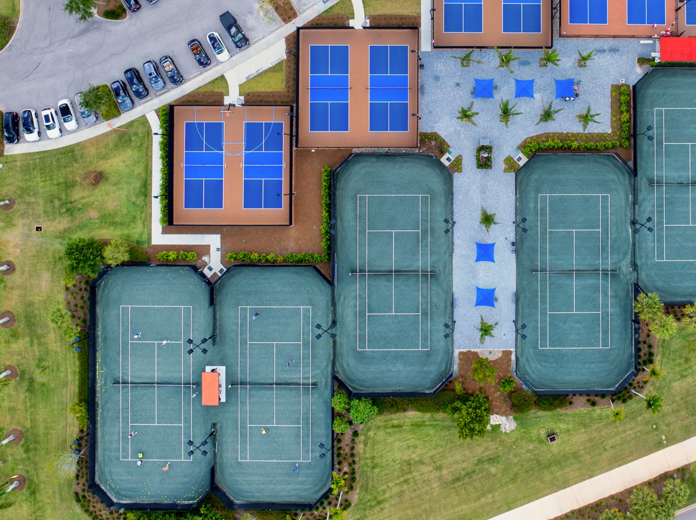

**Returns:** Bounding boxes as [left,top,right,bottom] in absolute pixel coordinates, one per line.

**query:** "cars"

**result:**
[17,108,44,143]
[123,0,142,14]
[158,53,185,86]
[186,37,214,69]
[72,91,100,126]
[1,111,22,145]
[108,77,136,112]
[121,65,150,101]
[142,58,167,92]
[56,98,82,132]
[206,31,231,62]
[39,106,64,139]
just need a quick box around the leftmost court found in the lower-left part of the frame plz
[96,266,214,502]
